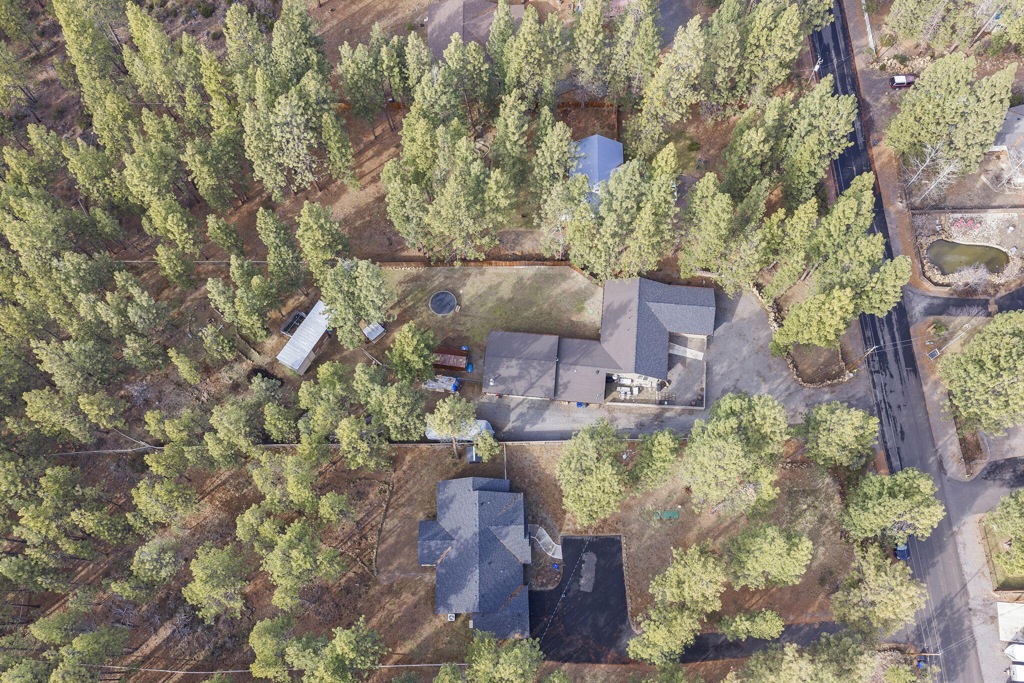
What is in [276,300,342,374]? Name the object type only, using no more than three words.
shed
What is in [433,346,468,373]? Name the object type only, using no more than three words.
shed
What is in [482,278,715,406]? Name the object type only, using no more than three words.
house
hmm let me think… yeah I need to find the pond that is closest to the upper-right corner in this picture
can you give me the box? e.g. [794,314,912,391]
[929,239,1009,275]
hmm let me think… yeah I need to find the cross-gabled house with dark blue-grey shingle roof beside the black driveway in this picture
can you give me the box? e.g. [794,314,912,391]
[418,477,531,639]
